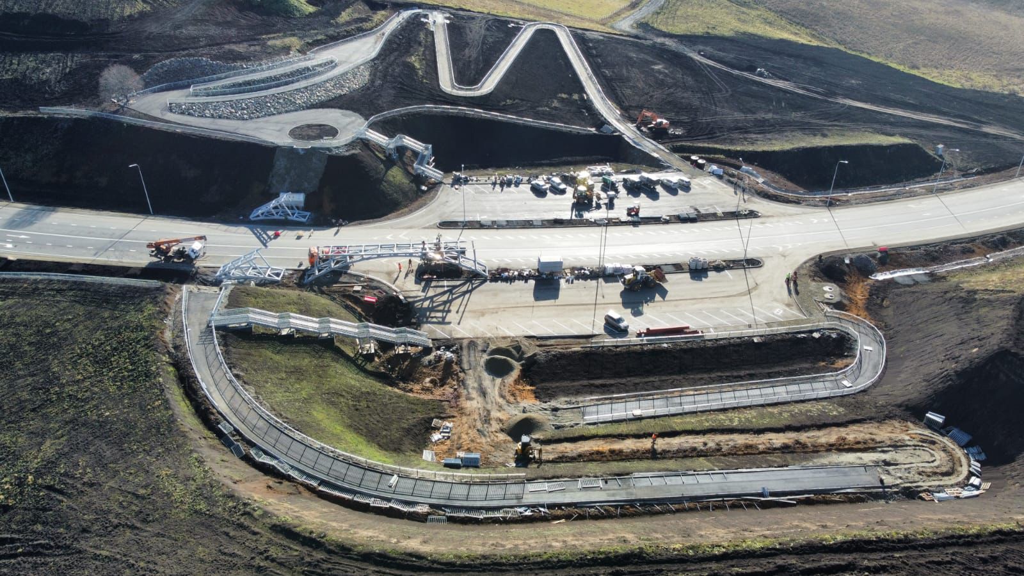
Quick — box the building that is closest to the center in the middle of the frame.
[537,255,564,276]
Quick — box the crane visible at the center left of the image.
[147,239,211,266]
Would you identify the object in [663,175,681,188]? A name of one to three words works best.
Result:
vehicle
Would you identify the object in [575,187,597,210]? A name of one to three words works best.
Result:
work vehicle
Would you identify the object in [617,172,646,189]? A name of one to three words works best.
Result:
vehicle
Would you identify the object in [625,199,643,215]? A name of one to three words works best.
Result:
work vehicle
